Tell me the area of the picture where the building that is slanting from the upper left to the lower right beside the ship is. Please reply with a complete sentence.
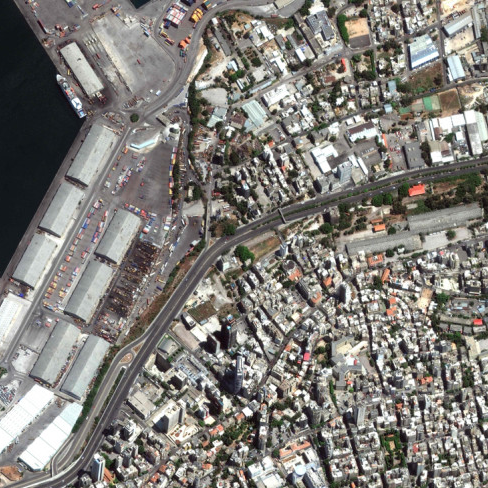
The building that is slanting from the upper left to the lower right beside the ship appears toward the top left of the photo.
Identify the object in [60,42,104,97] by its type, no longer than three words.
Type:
building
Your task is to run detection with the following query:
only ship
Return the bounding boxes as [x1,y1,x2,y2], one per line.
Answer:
[57,74,87,121]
